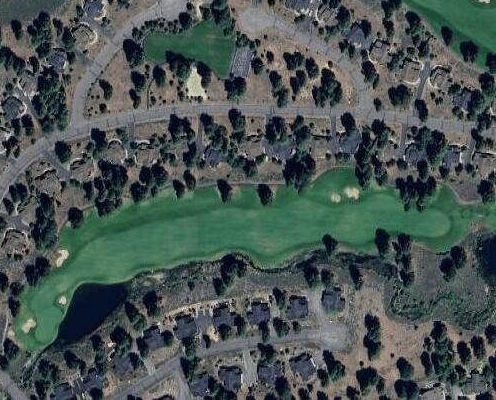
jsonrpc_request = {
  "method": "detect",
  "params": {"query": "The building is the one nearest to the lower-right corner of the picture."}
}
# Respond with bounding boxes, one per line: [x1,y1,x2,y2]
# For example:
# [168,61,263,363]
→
[463,376,489,398]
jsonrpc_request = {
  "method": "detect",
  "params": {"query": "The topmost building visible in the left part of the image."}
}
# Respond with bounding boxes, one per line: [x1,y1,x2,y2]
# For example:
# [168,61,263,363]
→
[82,0,107,20]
